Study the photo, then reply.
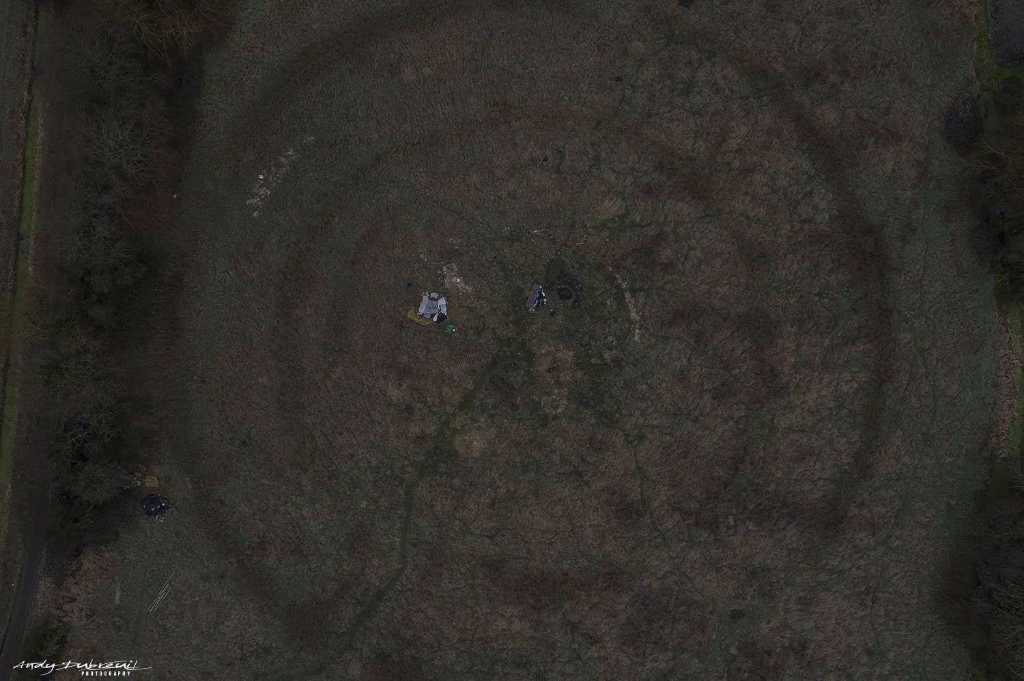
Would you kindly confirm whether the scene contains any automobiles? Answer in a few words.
No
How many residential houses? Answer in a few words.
0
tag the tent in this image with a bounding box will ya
[416,291,448,321]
